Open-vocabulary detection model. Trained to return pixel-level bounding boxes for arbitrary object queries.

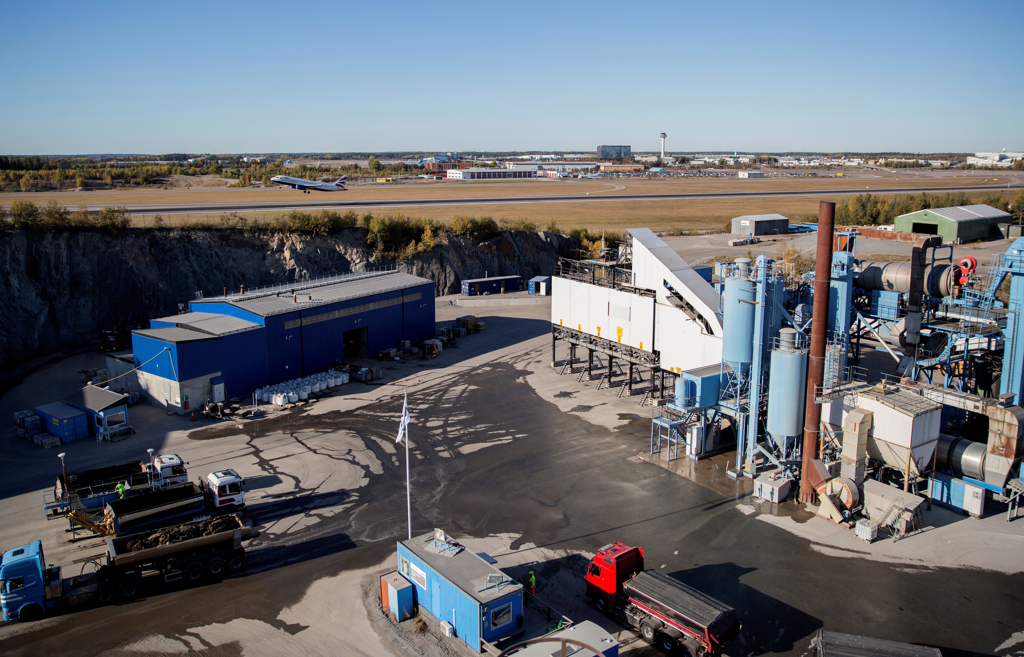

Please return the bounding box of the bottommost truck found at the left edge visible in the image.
[0,512,254,626]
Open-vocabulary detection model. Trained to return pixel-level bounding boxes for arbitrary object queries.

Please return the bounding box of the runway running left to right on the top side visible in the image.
[1,184,1024,218]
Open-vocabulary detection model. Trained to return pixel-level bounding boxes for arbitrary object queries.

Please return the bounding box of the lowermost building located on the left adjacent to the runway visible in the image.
[101,261,437,414]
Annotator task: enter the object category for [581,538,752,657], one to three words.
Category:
truck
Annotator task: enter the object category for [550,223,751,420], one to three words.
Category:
building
